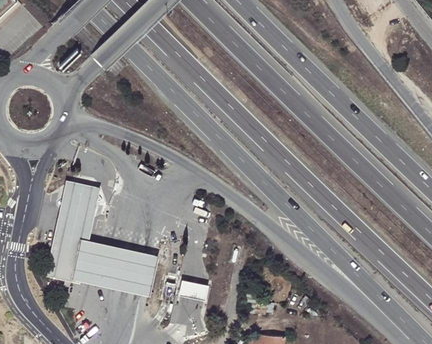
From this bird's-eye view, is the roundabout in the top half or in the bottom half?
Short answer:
top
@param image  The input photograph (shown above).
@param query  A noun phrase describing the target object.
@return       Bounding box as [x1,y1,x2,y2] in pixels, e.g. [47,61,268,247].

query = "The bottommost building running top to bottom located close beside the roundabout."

[47,181,100,282]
